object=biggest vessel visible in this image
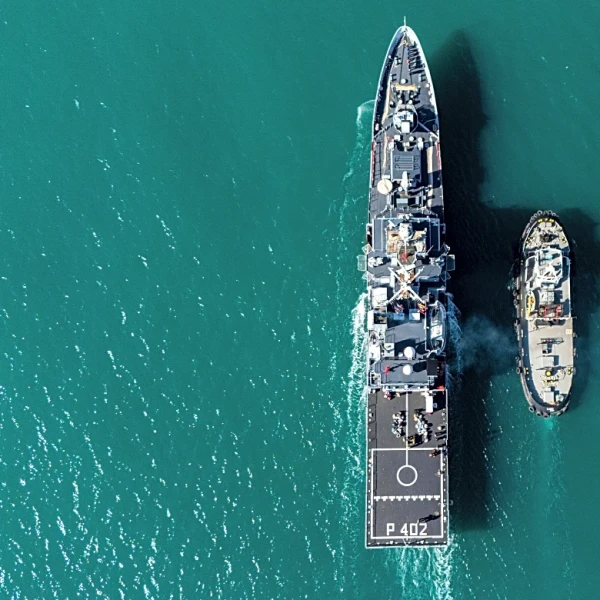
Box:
[357,16,455,548]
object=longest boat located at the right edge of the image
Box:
[512,209,578,417]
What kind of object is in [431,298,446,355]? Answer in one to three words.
boat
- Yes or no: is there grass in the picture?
No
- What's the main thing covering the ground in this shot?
water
